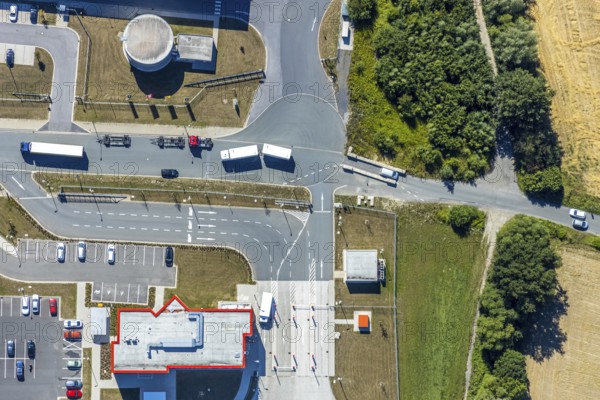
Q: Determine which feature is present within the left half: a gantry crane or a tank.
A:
tank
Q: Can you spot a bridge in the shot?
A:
No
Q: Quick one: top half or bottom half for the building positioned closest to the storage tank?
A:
top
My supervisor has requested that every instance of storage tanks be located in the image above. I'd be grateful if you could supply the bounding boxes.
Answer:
[116,15,182,71]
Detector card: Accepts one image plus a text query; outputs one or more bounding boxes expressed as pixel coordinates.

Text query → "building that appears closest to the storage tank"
[178,34,213,63]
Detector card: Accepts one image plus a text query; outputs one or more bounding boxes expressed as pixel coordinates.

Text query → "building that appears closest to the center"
[346,249,377,281]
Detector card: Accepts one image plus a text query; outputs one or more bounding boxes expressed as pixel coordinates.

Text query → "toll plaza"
[237,281,335,400]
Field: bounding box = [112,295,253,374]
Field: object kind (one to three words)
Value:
building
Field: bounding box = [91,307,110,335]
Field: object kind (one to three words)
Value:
shed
